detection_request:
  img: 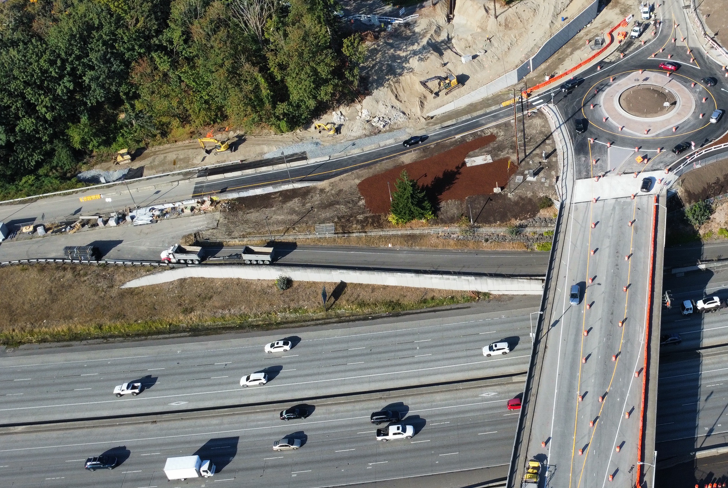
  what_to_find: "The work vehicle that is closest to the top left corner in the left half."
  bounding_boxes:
[107,147,137,168]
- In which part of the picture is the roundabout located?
top right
